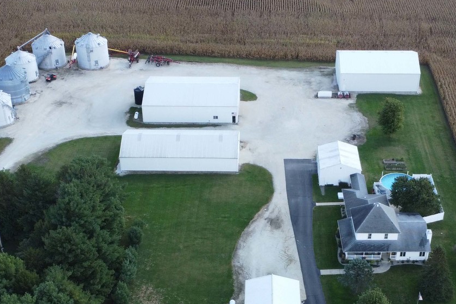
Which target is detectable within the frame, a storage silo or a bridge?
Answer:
storage silo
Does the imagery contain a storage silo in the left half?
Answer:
Yes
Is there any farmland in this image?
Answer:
Yes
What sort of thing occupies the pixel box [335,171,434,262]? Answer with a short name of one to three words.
house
